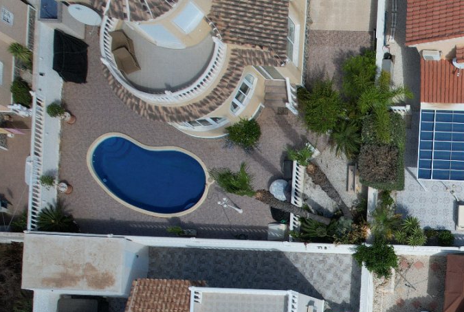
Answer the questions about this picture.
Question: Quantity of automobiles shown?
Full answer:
No automobiles are visible.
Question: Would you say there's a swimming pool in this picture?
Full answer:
Yes, I can see a swimming pool in this picture.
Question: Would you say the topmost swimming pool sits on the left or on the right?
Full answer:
It is on the left.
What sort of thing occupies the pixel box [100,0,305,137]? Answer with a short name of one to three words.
house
